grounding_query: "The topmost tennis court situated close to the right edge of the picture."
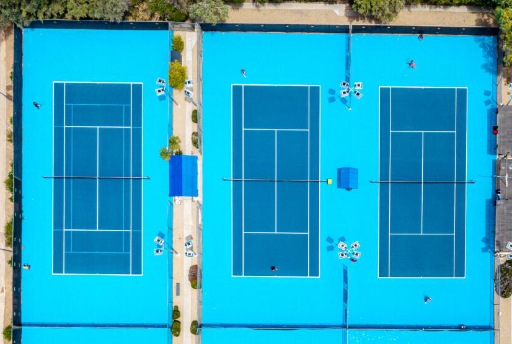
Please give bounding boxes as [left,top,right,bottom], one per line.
[347,34,497,329]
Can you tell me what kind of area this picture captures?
sports ground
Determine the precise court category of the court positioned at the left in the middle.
tennis court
